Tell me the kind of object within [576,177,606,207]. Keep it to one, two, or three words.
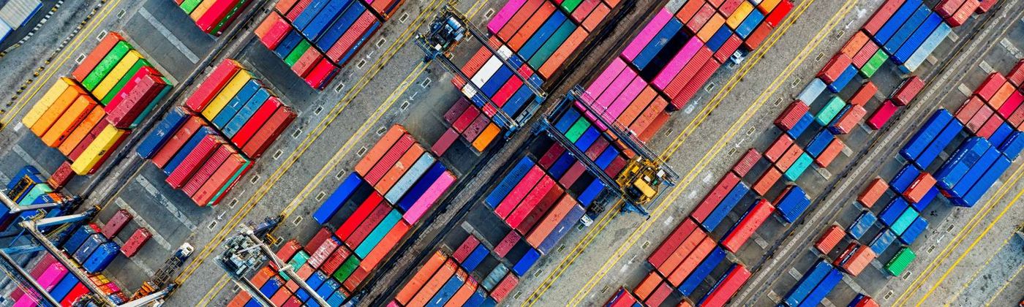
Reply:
shipping container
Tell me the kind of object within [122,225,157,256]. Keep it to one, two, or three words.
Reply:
shipping container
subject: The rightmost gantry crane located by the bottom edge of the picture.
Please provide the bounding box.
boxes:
[210,210,374,307]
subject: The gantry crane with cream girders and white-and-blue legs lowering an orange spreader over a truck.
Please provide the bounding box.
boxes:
[0,207,180,307]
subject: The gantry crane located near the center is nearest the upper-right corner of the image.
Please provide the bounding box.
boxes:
[539,86,680,218]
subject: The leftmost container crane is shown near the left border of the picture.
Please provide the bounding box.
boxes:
[0,174,85,240]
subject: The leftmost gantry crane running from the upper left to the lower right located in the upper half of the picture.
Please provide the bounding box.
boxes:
[413,0,550,139]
